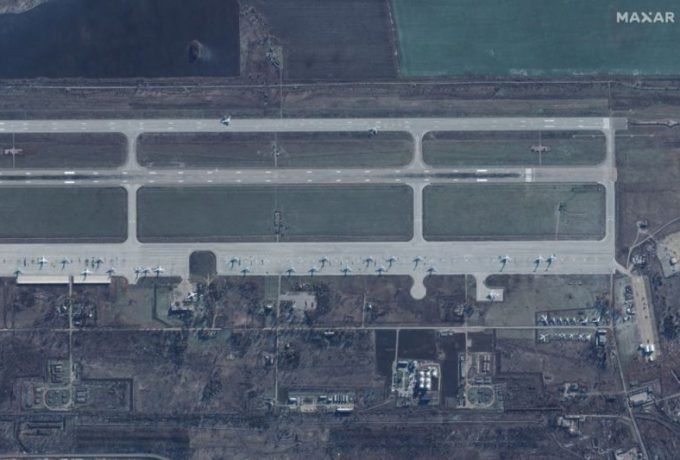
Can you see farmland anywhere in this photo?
Yes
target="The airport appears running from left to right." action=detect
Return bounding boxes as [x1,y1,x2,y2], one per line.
[0,117,633,311]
